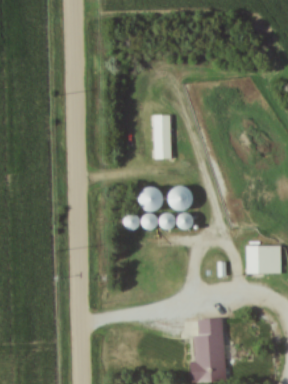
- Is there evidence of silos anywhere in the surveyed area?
Yes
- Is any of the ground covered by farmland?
Yes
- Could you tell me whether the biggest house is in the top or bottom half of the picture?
bottom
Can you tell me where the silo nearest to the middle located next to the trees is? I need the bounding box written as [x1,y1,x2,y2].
[138,186,164,212]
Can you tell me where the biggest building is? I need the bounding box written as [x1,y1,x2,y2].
[191,318,227,383]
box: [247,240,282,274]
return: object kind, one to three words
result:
barn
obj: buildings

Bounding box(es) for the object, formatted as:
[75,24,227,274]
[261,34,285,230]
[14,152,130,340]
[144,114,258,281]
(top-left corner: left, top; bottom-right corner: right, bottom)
[247,240,282,274]
[191,318,227,383]
[216,260,227,278]
[152,114,172,158]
